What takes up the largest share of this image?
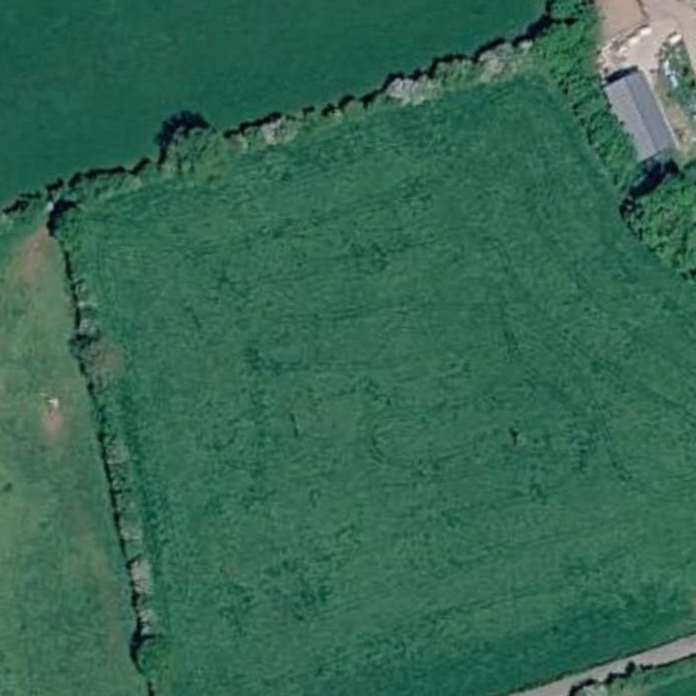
grass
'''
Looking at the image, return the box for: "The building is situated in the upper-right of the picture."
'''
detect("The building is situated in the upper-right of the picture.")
[603,69,675,163]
